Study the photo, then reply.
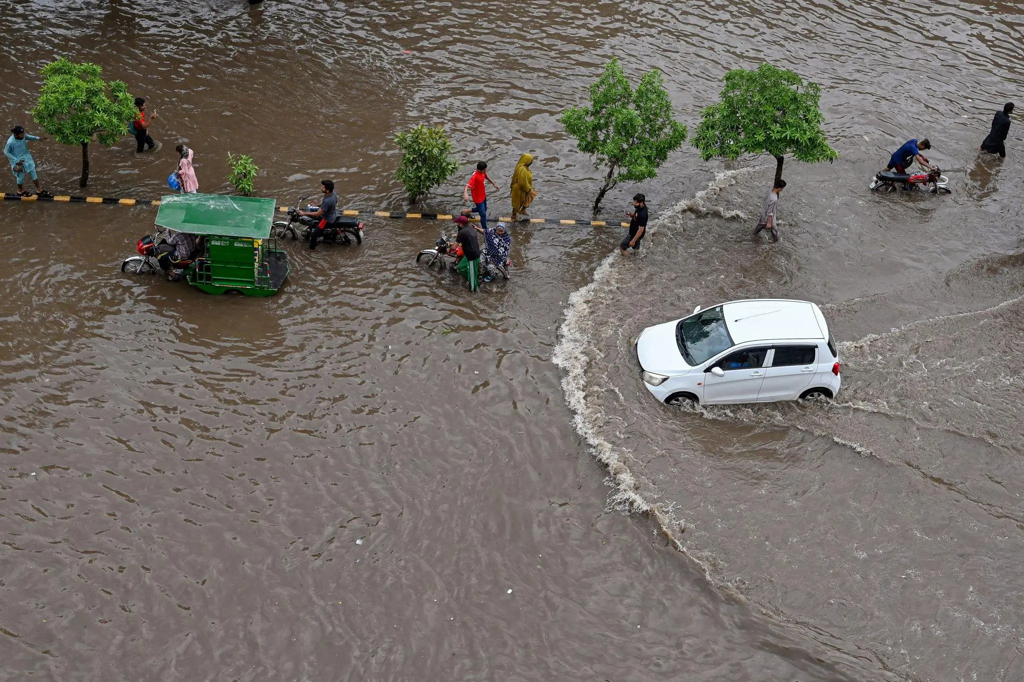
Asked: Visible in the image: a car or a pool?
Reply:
car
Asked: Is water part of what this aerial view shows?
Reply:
Yes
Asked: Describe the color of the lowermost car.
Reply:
white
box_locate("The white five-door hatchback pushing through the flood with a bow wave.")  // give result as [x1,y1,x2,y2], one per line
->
[637,297,841,402]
